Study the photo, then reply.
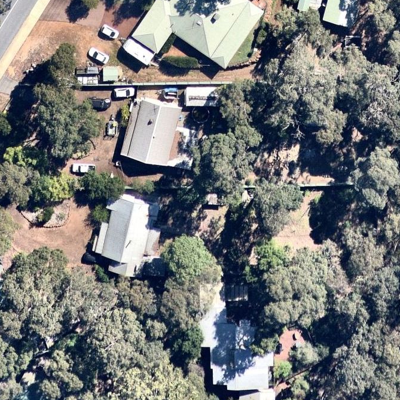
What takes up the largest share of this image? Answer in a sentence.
The largest share of the image is taken up by trees.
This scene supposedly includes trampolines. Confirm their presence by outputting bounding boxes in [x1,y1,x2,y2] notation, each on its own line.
[193,106,211,124]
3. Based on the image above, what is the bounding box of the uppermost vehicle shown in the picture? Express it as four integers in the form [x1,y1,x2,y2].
[100,24,119,38]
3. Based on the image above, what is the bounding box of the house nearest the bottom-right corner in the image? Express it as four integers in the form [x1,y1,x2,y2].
[199,297,273,390]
